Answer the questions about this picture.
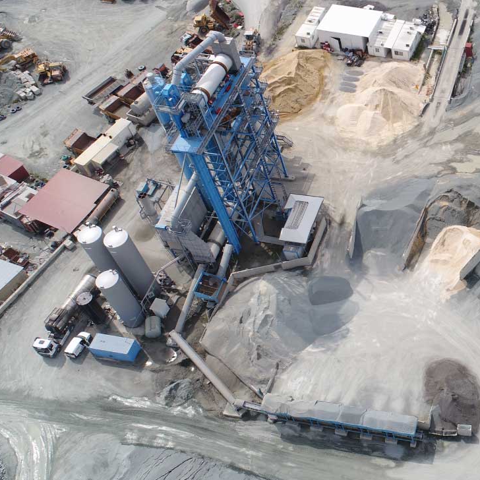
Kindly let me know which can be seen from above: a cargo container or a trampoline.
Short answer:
cargo container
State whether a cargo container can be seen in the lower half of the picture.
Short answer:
Yes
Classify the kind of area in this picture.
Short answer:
industrial area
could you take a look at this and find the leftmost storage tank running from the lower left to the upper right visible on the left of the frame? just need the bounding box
[92,188,129,227]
